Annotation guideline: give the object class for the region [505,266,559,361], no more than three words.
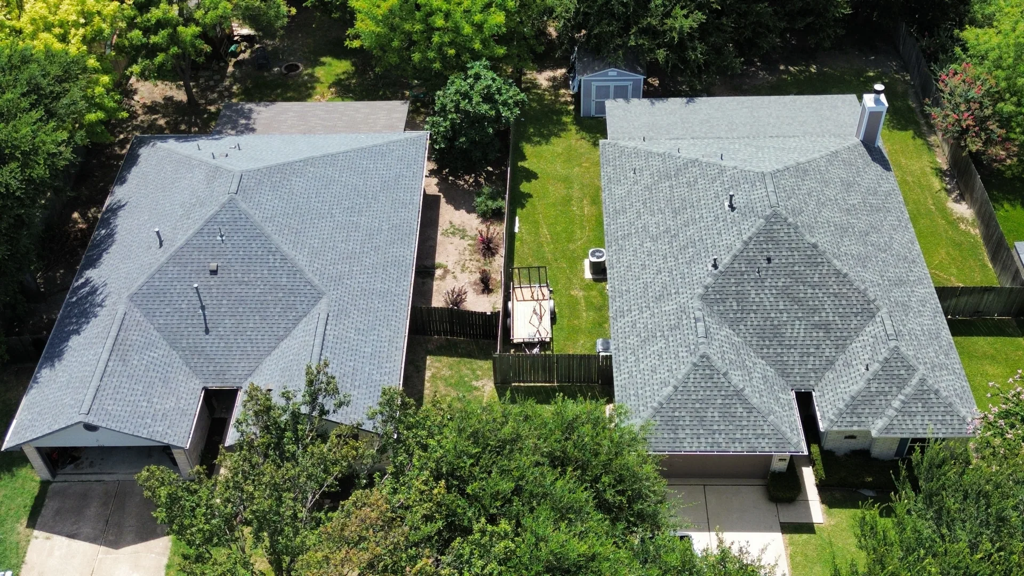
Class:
trailer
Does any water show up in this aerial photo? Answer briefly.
No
